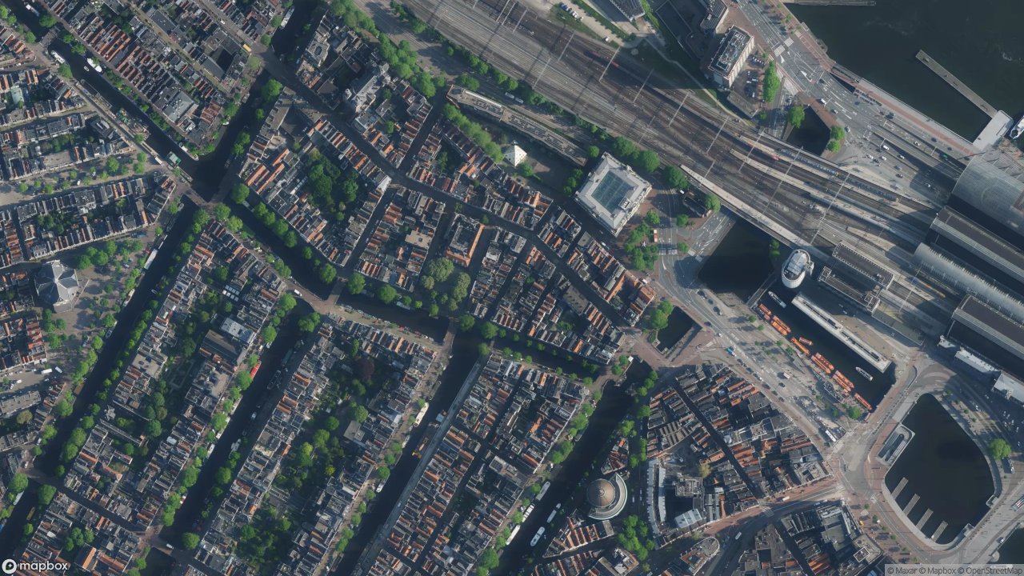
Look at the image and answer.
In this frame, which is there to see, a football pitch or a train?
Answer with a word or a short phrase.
train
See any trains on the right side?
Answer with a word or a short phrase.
Yes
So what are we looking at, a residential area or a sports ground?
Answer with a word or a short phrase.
residential area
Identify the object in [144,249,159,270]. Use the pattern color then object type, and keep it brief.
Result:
white boat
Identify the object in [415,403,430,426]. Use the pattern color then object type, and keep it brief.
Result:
white boat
